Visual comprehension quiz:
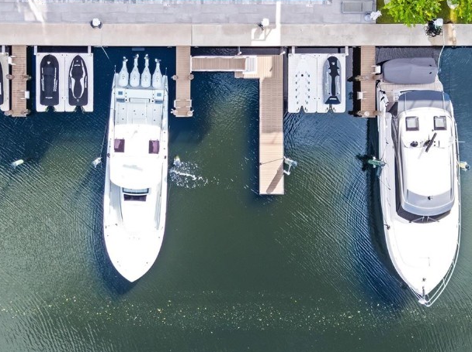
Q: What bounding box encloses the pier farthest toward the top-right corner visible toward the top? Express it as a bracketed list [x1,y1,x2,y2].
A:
[350,47,397,117]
